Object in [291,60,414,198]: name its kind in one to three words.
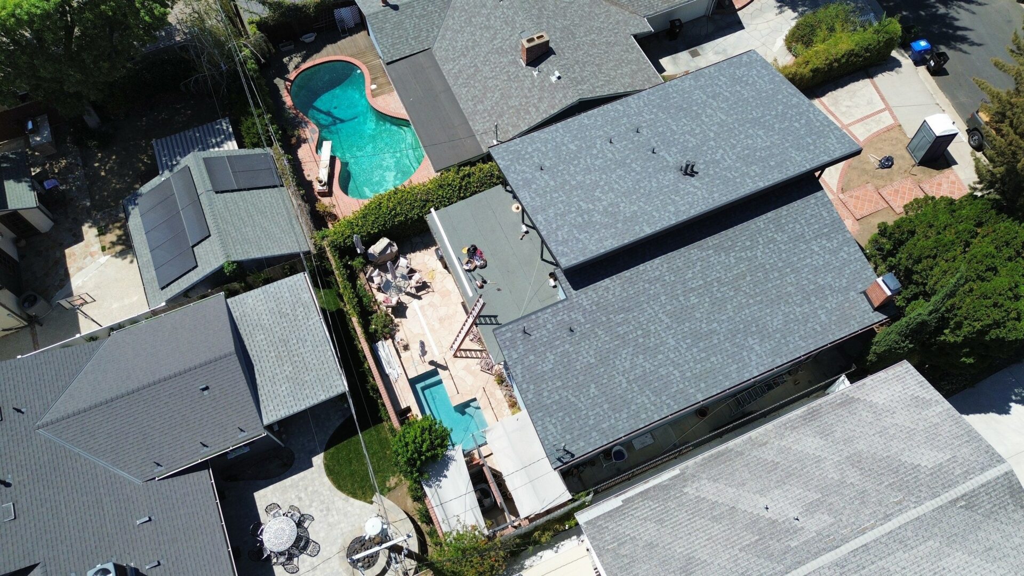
swimming pool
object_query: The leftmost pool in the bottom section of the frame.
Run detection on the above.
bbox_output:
[409,369,487,455]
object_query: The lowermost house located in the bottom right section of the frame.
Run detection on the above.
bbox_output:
[574,361,1024,576]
